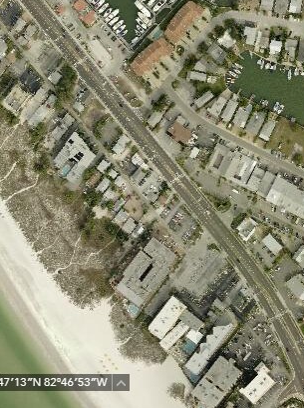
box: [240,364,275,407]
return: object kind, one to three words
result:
building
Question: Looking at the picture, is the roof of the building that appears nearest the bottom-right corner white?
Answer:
Yes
